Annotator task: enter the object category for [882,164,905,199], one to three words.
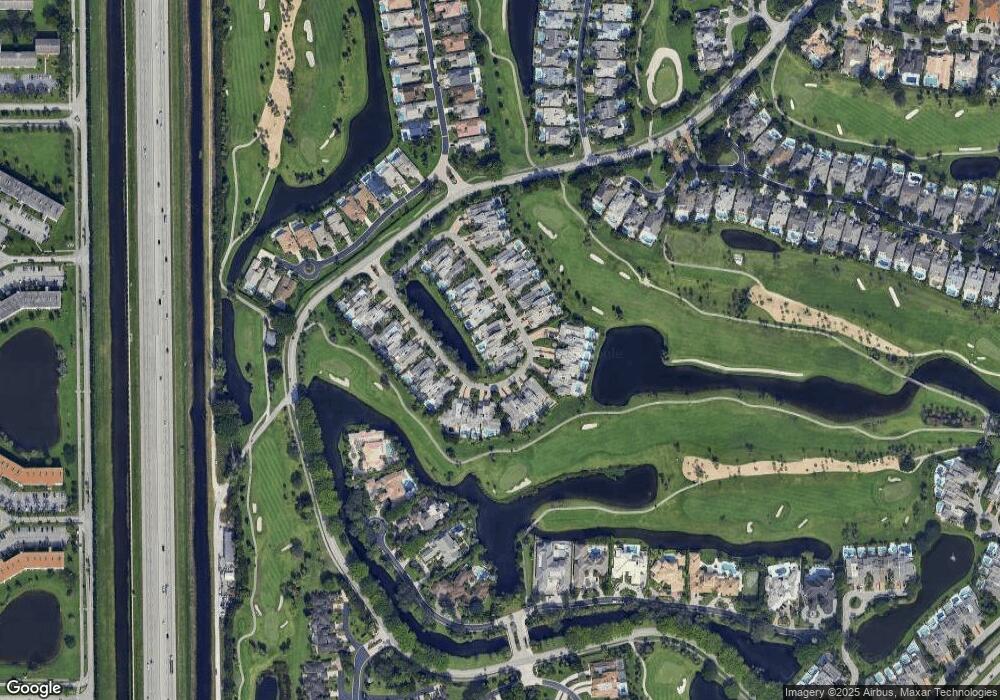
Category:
house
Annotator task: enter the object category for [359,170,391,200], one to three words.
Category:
house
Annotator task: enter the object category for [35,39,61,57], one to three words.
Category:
building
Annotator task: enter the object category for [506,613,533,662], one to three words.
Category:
bridge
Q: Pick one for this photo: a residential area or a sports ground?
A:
residential area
